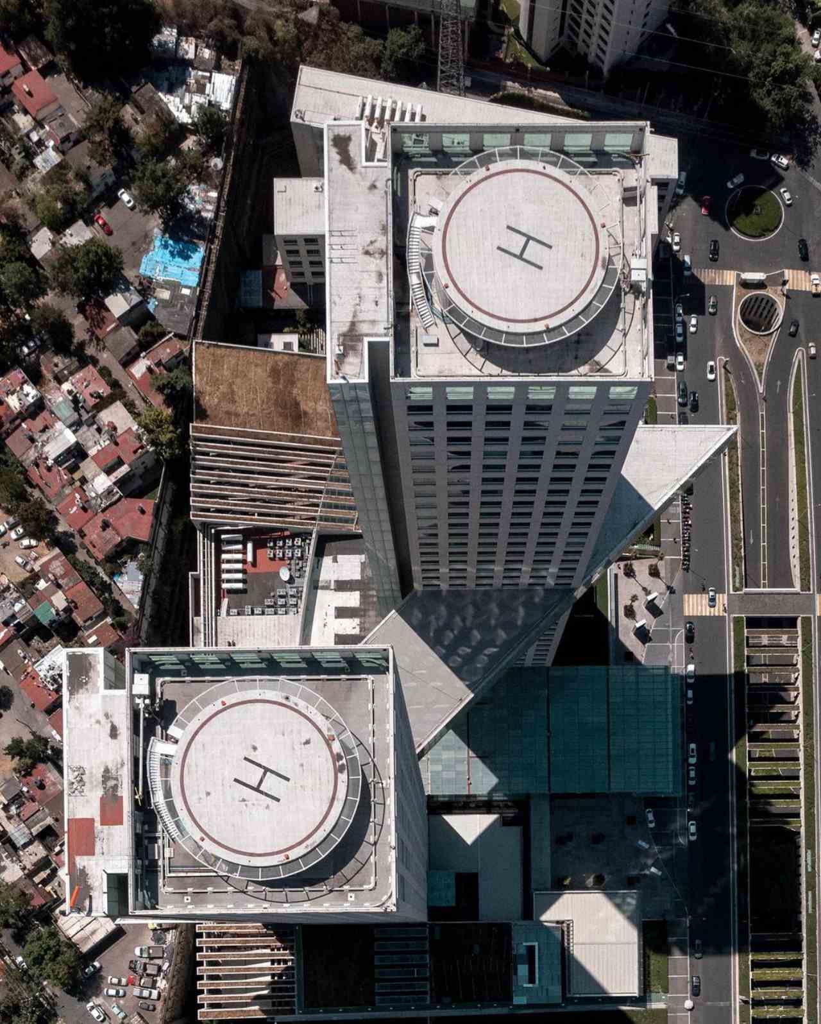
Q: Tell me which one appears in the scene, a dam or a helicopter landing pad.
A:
helicopter landing pad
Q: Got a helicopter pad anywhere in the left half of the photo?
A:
Yes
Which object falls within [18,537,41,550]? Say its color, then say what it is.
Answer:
white vehicle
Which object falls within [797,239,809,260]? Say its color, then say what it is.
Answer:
black vehicle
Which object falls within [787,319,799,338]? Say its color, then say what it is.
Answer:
black vehicle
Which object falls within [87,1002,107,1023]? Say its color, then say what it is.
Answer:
white car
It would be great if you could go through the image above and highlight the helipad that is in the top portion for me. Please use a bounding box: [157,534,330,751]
[404,145,621,346]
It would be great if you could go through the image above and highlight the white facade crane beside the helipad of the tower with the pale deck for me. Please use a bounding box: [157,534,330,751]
[622,159,649,289]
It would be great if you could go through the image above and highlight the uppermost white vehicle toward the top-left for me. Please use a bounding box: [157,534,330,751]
[116,188,134,210]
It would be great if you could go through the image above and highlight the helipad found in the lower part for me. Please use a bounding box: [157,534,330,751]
[140,677,361,880]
